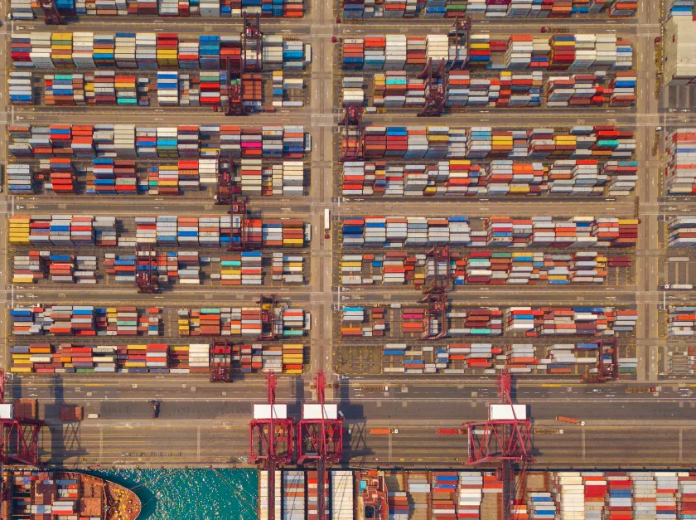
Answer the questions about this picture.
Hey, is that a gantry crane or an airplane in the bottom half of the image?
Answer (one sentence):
There is a gantry crane in the bottom half of the image.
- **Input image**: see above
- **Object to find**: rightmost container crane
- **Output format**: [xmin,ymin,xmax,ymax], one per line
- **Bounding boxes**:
[582,338,618,383]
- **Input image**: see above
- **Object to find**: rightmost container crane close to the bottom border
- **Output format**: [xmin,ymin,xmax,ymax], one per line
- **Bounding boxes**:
[455,370,535,520]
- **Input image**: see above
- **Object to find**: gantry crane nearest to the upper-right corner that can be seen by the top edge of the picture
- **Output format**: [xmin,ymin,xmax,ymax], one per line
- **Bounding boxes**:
[442,9,471,71]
